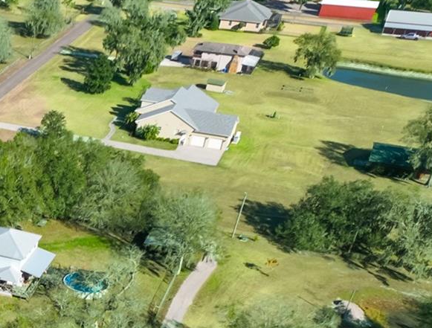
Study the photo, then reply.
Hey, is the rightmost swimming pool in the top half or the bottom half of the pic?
bottom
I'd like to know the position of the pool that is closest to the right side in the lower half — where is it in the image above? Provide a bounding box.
[60,269,114,299]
